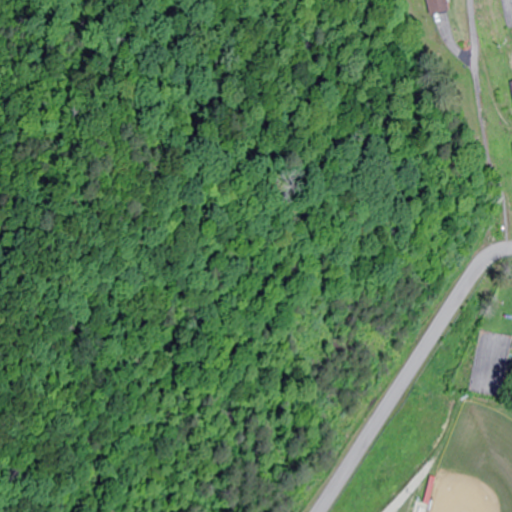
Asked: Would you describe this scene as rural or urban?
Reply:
rural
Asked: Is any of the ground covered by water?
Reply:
No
